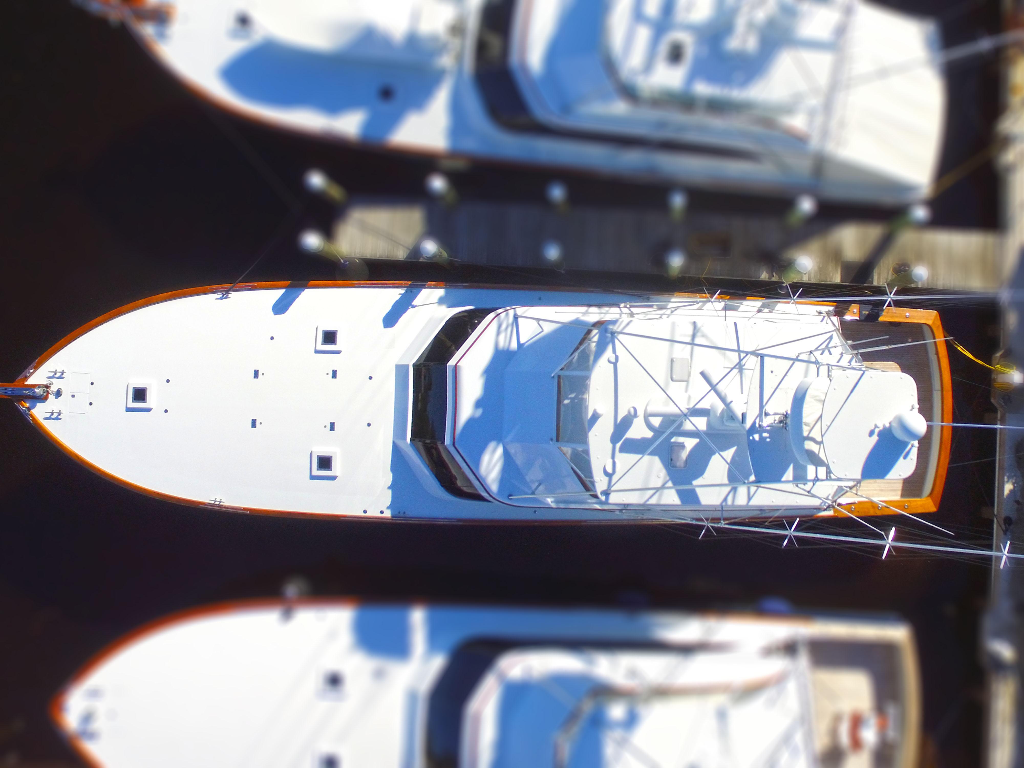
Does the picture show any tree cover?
No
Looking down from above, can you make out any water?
Yes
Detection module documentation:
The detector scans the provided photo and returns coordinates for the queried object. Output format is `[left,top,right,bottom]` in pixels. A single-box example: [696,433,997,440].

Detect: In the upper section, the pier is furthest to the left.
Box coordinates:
[337,195,996,292]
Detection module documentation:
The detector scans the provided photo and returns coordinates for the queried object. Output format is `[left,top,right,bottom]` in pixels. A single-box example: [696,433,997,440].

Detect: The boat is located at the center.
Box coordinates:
[0,276,1024,576]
